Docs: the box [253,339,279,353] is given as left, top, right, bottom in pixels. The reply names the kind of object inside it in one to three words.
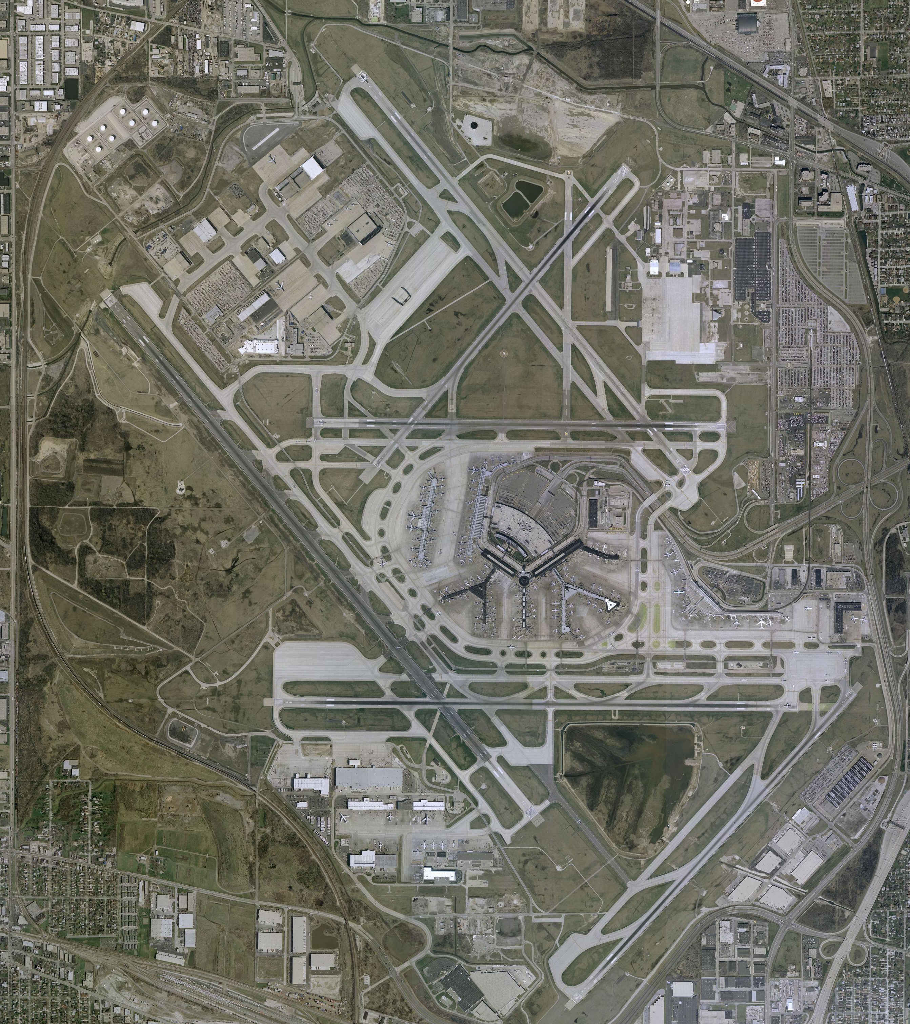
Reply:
hangar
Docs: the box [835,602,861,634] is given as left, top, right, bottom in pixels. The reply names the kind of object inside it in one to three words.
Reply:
building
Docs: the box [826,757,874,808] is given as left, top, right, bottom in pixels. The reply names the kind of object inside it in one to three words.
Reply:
shed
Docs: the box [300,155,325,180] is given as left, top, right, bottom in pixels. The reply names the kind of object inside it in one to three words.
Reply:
hangar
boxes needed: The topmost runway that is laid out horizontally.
[314,417,726,432]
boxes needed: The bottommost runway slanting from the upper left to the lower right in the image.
[104,294,536,816]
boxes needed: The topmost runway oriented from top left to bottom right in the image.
[358,70,689,473]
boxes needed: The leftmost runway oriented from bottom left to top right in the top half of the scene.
[373,167,627,466]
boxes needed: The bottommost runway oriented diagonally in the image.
[573,690,855,1002]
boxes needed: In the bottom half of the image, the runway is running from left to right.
[273,696,798,712]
